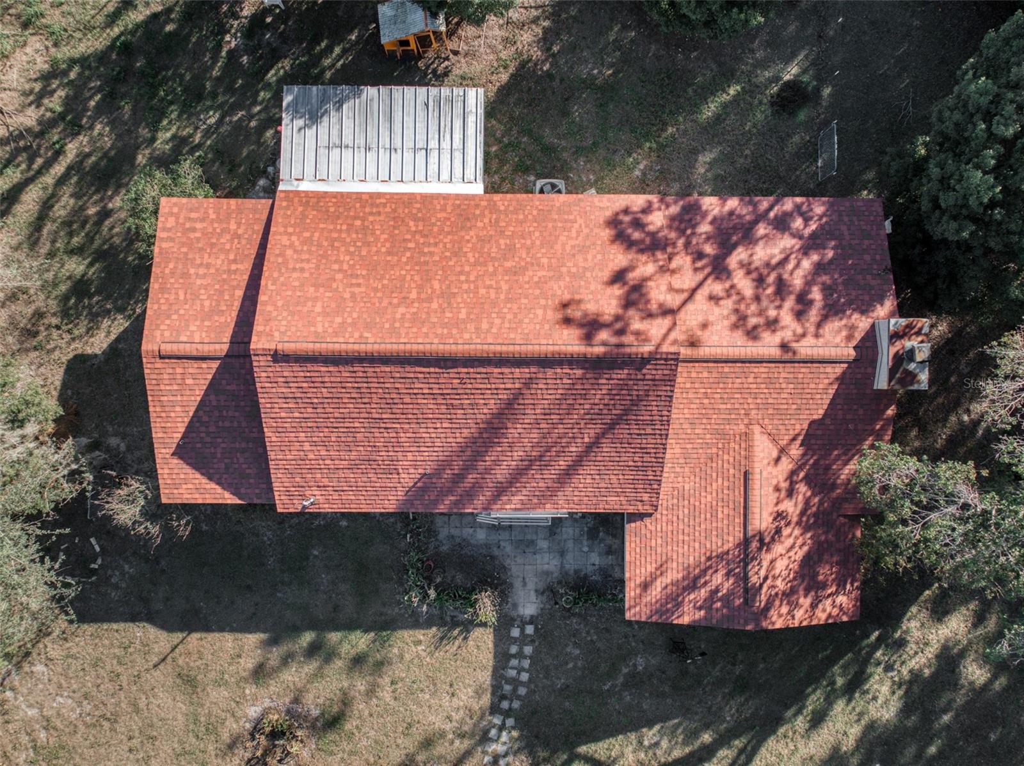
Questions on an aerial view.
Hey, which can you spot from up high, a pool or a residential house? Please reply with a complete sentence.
It is a residential house that can be seen here.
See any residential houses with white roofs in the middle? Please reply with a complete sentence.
No, in the middle there is no residential house with a white roof.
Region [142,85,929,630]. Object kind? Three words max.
house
